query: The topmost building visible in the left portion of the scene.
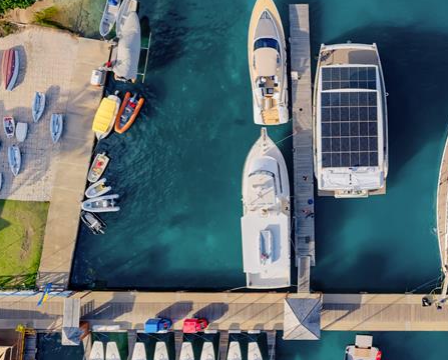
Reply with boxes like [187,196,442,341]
[62,319,91,344]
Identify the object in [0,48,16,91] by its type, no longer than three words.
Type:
boat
